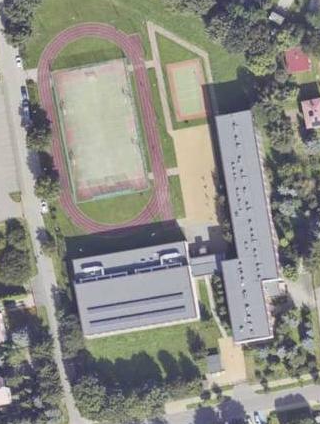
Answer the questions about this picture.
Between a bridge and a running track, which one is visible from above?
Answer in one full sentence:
There is a running track in the scene.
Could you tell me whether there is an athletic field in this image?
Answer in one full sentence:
Yes, an athletic field can be made out from above.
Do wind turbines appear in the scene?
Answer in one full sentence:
No, the photo shows no wind turbine.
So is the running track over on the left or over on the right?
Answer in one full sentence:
The running track appears in the left half of the scene.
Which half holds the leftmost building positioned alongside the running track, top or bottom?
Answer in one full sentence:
It is in the bottom half that the leftmost building positioned alongside the running track appears.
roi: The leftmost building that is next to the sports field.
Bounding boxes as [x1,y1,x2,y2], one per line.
[73,241,202,341]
